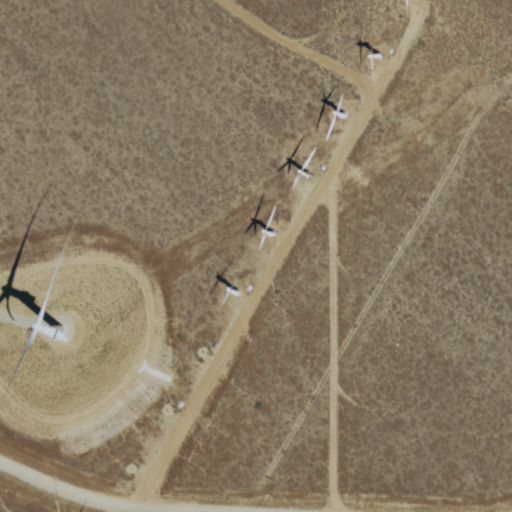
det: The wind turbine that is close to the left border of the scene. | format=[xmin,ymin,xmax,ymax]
[4,216,78,408]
